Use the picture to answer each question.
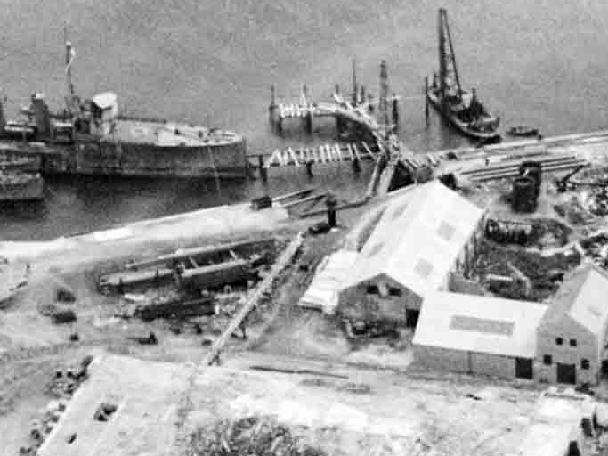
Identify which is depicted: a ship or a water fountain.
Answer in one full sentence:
It is a ship that can be seen here.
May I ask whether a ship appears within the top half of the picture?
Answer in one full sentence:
Yes, within the top half of the picture there is a ship.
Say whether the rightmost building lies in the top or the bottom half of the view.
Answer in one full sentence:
The rightmost building is in the bottom half of the image.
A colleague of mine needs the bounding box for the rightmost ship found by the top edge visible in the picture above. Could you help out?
[421,6,503,146]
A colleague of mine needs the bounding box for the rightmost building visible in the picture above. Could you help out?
[533,262,608,376]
